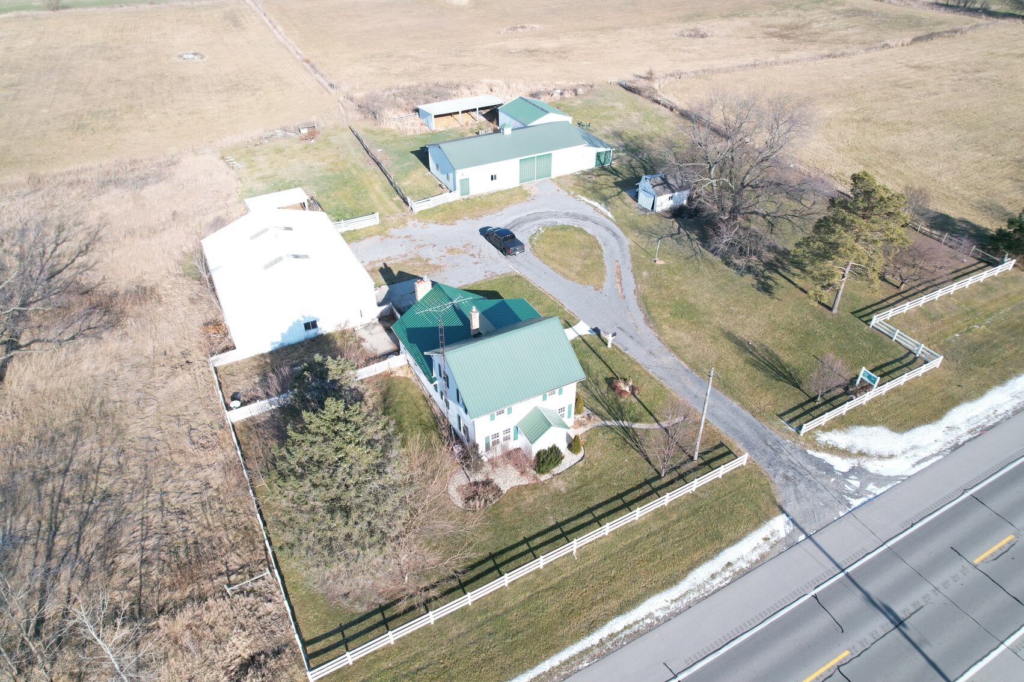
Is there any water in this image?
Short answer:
No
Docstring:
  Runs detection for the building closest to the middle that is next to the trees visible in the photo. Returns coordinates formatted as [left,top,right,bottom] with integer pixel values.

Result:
[392,275,585,462]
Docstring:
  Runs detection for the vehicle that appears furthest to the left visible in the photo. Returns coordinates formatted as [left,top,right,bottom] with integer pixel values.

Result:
[485,226,526,256]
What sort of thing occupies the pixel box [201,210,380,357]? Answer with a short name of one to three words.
building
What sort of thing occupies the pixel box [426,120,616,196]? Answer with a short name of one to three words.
barn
